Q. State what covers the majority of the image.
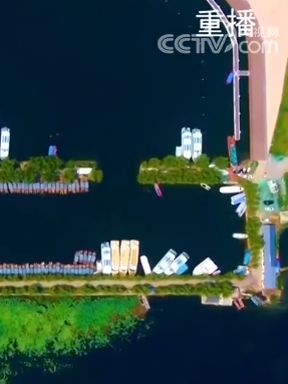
water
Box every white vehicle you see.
[268,179,279,195]
[263,206,274,212]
